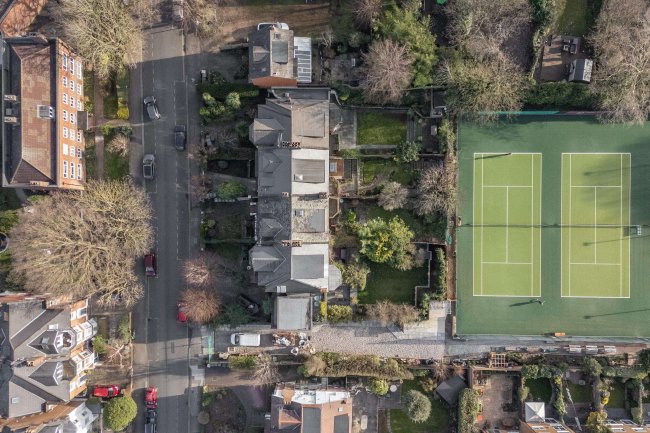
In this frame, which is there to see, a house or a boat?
house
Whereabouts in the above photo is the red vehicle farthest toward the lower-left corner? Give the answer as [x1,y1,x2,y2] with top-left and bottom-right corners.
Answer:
[94,384,120,397]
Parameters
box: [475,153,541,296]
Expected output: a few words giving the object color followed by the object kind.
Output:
green tennis court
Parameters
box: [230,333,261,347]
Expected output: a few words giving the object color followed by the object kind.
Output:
white vehicle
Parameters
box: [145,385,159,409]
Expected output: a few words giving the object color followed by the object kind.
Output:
red vehicle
